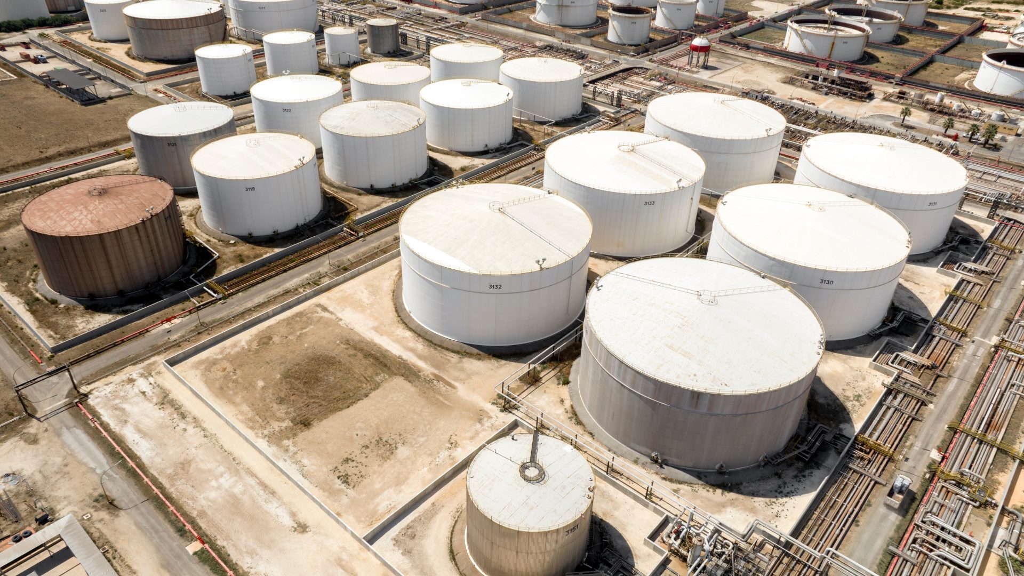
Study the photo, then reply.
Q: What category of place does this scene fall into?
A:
industrial area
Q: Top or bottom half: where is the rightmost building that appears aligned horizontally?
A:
top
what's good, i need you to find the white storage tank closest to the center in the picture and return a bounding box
[394,178,597,351]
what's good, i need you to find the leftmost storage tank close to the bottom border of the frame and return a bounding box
[450,418,603,576]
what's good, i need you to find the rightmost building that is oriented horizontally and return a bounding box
[980,120,1023,142]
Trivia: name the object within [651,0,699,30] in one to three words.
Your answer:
storage tank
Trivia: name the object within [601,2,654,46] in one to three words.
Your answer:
storage tank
